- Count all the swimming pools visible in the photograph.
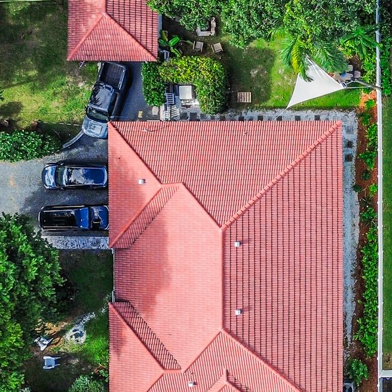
none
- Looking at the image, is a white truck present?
No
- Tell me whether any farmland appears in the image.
No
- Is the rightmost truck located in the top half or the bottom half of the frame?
top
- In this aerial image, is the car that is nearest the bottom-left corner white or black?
black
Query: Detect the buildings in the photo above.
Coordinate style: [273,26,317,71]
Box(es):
[66,0,175,63]
[105,120,343,392]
